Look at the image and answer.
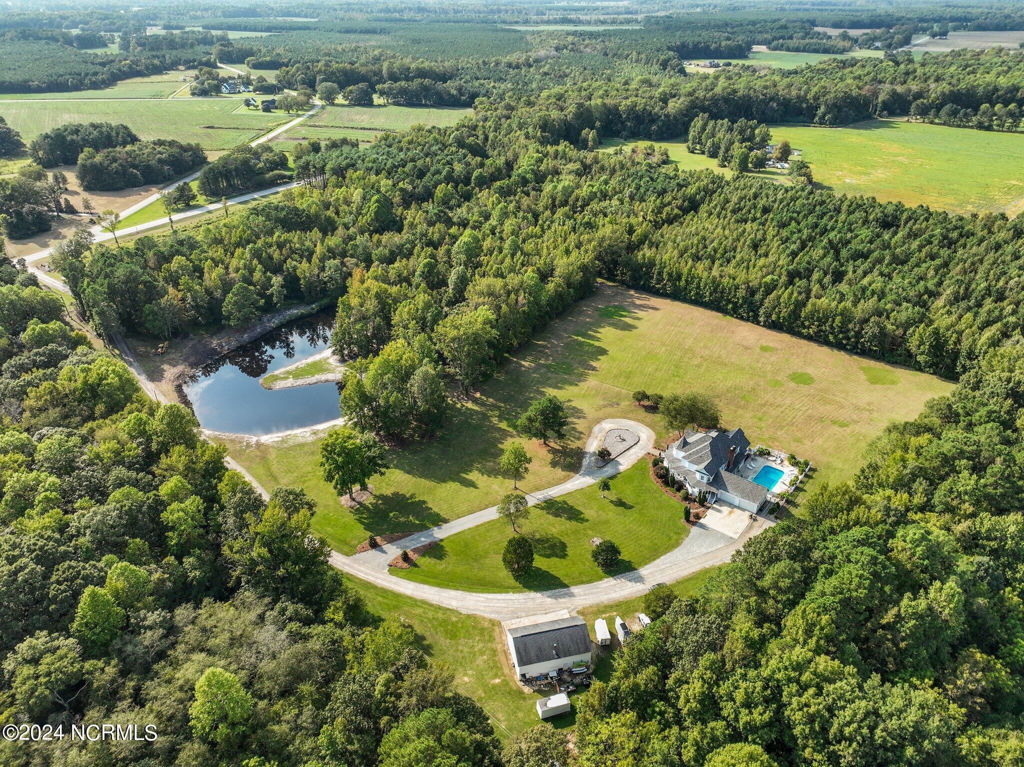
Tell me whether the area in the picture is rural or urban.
rural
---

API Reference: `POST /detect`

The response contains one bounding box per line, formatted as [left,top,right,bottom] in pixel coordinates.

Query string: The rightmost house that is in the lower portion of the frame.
[664,425,768,513]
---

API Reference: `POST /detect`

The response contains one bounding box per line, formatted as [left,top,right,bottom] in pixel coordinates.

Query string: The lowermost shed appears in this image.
[537,692,571,718]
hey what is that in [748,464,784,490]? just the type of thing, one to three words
swimming pool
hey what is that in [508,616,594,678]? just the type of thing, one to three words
barn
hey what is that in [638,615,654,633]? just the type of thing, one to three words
vehicle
